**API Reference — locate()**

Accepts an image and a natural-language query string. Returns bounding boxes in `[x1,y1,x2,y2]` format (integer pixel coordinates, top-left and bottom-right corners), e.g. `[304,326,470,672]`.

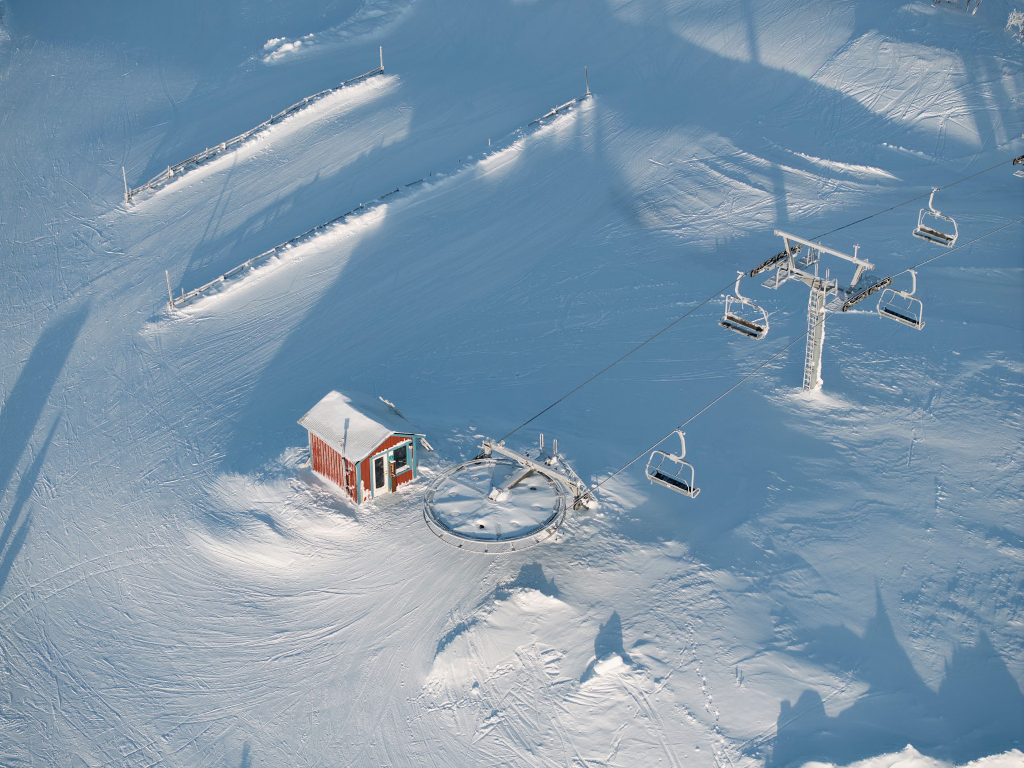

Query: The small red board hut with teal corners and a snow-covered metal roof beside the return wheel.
[300,388,426,504]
